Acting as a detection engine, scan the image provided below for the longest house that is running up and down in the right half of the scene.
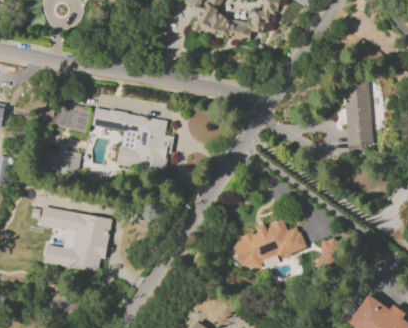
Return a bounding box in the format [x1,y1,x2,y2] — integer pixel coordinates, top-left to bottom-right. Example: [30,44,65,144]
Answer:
[348,84,374,150]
